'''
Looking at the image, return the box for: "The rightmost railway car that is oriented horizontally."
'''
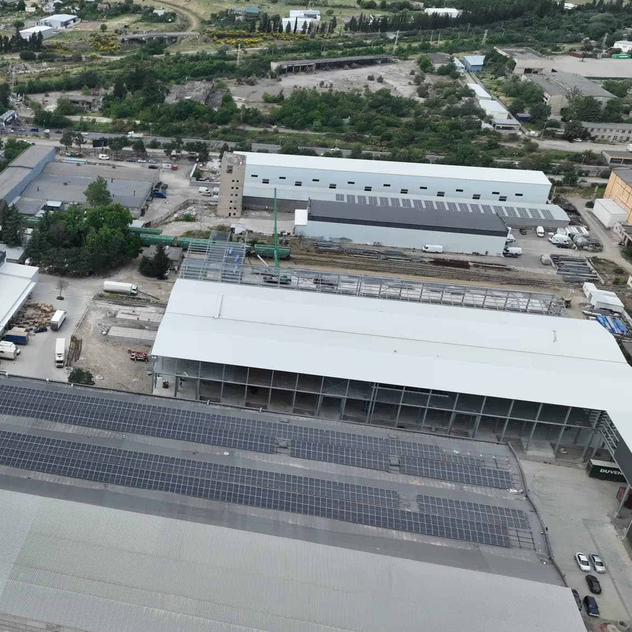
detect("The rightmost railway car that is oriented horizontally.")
[253,243,293,260]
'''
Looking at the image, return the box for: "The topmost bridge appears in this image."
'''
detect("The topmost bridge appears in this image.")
[119,30,192,46]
